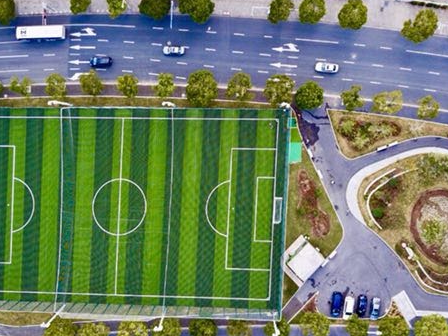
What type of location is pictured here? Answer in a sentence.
This image shows a sports ground.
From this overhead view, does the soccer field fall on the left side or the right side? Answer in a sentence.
The soccer field is on the left side of the image.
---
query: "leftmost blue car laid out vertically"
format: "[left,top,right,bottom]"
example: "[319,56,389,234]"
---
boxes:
[331,291,343,316]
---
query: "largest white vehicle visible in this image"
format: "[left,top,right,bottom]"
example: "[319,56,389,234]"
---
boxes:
[13,24,69,40]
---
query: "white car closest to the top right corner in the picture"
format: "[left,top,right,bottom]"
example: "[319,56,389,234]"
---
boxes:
[314,61,339,73]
